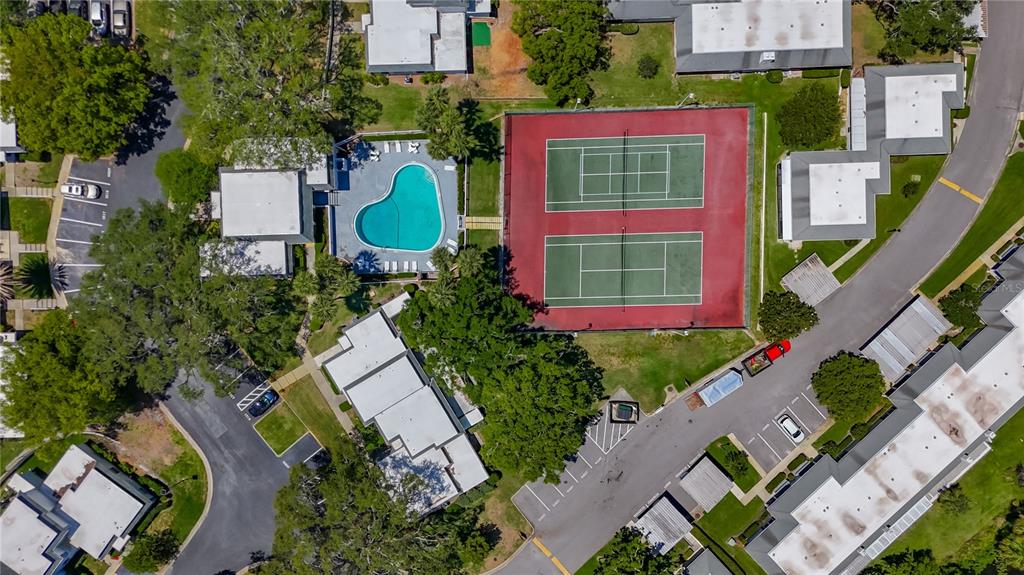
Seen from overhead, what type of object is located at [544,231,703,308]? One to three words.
tennis court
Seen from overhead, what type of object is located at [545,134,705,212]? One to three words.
tennis court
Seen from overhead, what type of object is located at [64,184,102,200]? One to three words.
car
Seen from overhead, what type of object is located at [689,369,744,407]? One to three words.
trailer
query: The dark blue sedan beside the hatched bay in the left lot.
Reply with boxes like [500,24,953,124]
[248,389,280,416]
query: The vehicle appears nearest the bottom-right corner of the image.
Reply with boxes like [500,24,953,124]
[777,412,805,444]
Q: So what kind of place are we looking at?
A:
residential area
